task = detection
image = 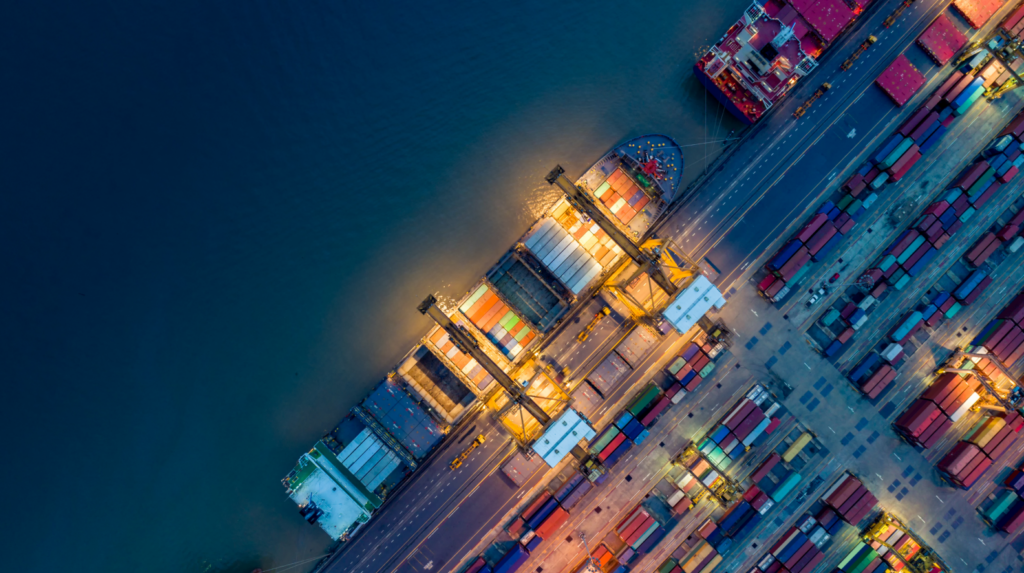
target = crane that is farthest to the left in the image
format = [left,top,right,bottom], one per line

[416,292,606,483]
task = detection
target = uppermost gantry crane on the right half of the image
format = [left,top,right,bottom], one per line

[950,22,1024,105]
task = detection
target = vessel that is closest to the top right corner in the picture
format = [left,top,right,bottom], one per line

[692,0,872,124]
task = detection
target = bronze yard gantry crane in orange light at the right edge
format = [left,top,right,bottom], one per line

[934,351,1024,413]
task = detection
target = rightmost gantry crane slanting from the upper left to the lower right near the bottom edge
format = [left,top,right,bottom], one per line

[872,512,954,573]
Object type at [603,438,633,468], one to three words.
shipping container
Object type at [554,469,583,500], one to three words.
shipping container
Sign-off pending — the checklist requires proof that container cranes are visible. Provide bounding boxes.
[934,351,1024,413]
[950,22,1024,105]
[544,163,735,349]
[872,512,954,573]
[670,441,746,514]
[416,292,606,483]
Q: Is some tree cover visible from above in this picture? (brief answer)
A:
No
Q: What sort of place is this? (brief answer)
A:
port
